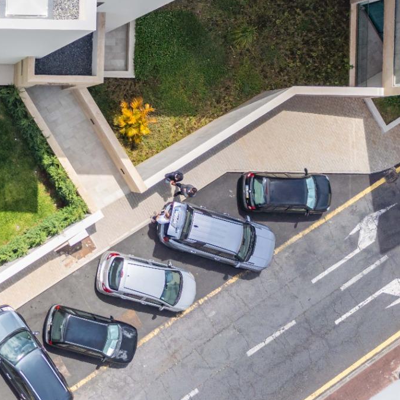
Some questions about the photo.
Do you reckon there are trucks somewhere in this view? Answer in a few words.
No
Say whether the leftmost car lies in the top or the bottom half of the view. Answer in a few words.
bottom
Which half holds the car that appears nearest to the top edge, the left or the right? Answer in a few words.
right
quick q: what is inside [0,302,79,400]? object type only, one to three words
car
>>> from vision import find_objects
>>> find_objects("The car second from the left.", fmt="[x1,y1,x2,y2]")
[40,306,137,369]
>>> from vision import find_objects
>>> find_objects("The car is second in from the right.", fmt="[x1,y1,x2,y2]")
[161,202,271,274]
